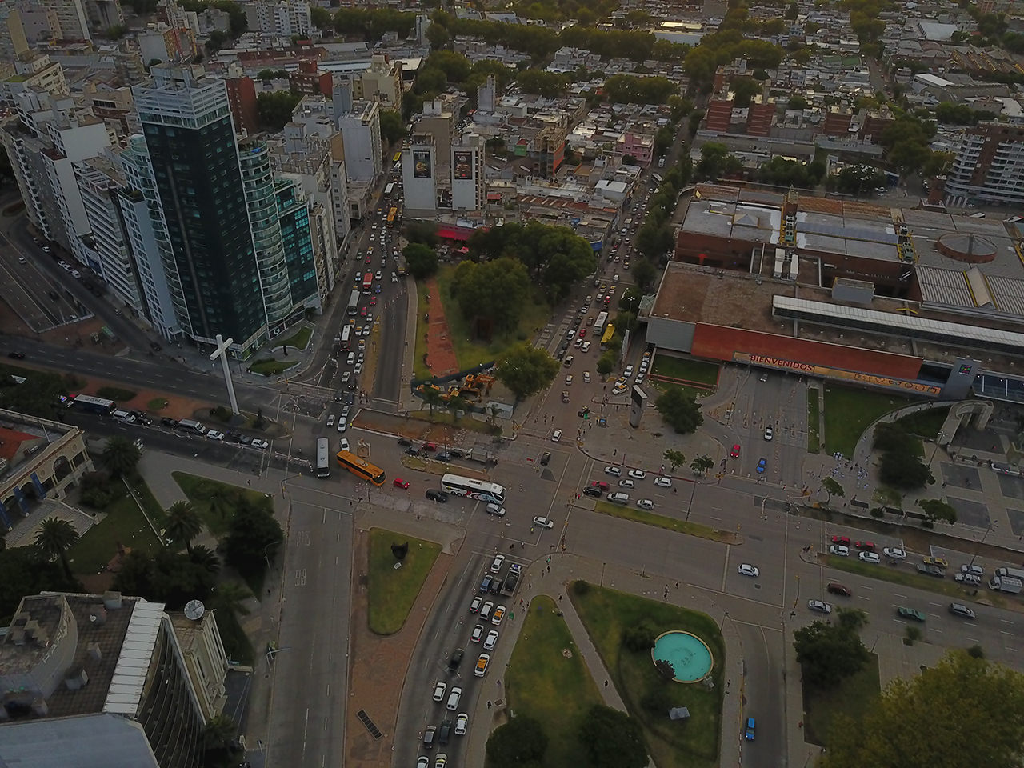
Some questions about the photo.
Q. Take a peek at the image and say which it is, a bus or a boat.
bus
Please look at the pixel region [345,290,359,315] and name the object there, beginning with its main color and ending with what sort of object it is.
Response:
gray vehicle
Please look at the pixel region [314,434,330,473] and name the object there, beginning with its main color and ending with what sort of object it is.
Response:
gray vehicle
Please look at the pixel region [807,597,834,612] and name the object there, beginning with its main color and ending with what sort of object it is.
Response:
gray car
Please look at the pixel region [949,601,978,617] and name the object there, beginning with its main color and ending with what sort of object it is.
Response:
gray car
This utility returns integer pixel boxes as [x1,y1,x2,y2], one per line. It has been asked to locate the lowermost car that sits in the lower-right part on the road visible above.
[744,712,759,742]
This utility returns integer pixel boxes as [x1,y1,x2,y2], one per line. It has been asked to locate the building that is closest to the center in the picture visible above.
[487,400,513,425]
